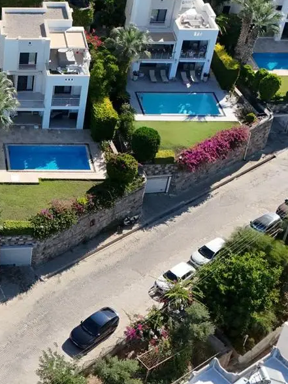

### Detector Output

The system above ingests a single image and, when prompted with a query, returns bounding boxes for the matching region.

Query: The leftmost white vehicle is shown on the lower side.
[152,260,198,295]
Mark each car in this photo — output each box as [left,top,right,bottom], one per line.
[66,310,116,351]
[273,200,288,223]
[186,240,225,271]
[244,211,287,239]
[152,260,198,295]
